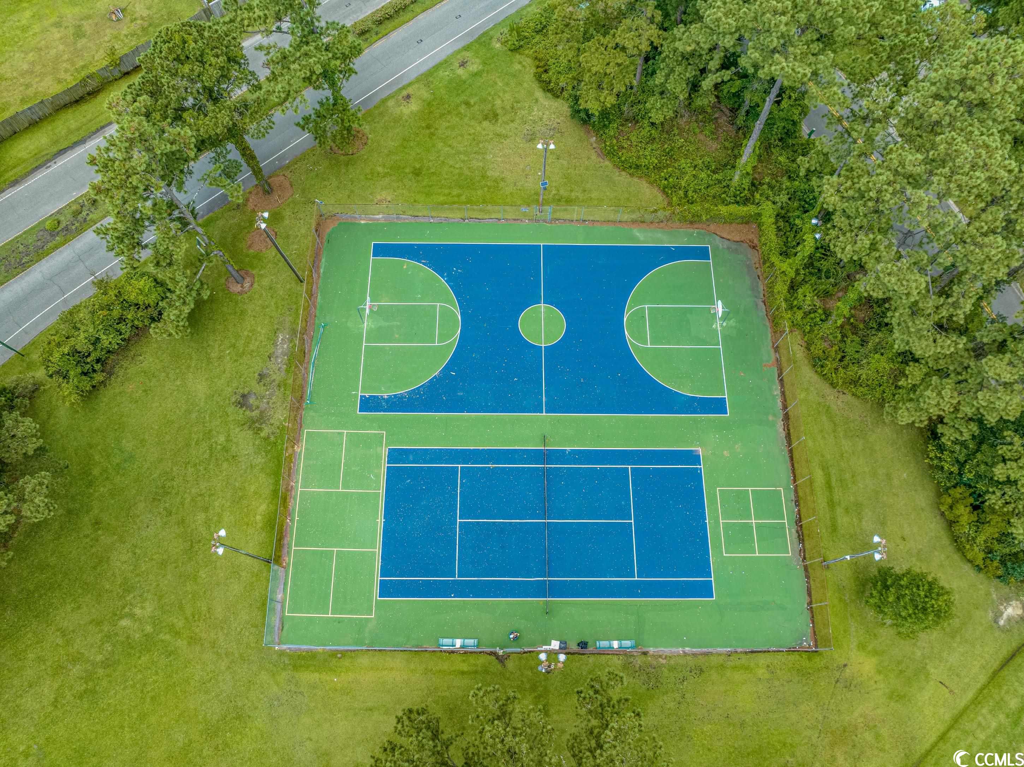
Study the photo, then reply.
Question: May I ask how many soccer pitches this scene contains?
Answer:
none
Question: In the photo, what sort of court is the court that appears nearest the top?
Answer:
basketball court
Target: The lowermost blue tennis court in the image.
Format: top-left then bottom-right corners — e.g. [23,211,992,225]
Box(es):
[378,447,715,600]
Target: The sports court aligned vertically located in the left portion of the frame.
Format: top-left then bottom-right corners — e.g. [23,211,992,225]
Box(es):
[285,431,385,616]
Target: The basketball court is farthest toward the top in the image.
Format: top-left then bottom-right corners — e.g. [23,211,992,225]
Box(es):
[359,243,729,415]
